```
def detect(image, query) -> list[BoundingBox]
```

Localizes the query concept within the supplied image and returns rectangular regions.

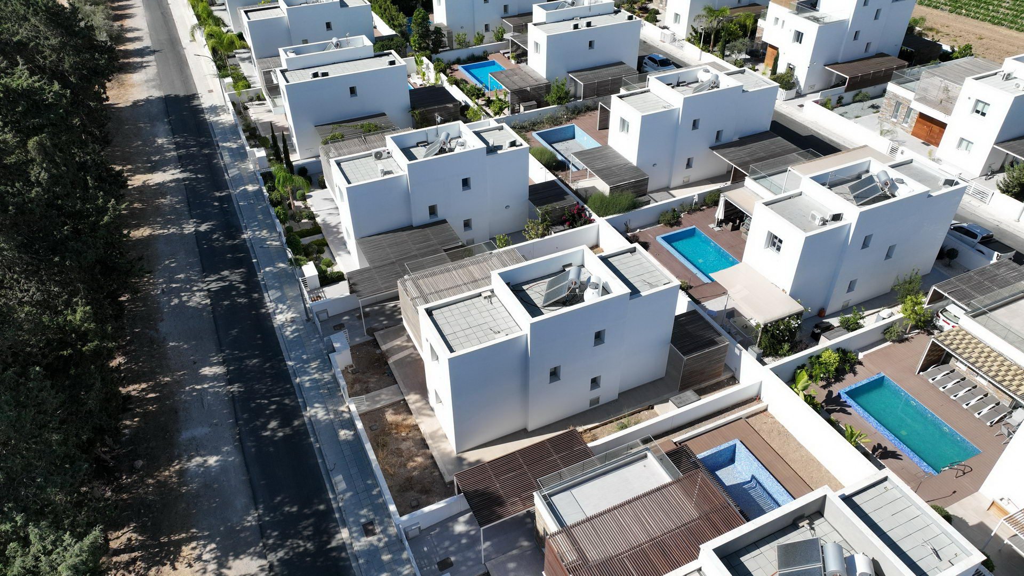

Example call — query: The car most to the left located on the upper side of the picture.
[637,50,668,72]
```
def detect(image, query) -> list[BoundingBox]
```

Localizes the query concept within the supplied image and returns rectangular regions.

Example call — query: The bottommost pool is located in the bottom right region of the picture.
[698,438,795,518]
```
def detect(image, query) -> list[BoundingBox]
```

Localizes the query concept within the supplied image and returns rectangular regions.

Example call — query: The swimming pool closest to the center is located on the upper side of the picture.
[534,123,599,169]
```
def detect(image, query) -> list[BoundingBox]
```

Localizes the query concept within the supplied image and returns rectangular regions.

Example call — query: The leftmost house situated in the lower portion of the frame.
[397,240,682,452]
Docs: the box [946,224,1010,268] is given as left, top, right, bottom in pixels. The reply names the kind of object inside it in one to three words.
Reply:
truck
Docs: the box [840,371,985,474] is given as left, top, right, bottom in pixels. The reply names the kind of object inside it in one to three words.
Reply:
swimming pool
